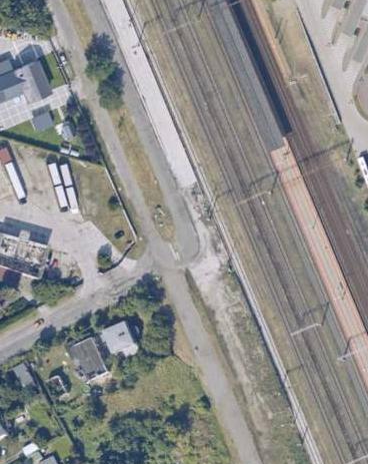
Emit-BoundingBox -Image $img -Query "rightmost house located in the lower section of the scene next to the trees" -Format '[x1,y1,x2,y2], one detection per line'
[101,322,137,358]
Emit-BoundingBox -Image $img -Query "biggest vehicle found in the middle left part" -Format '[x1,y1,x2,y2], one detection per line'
[5,161,29,206]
